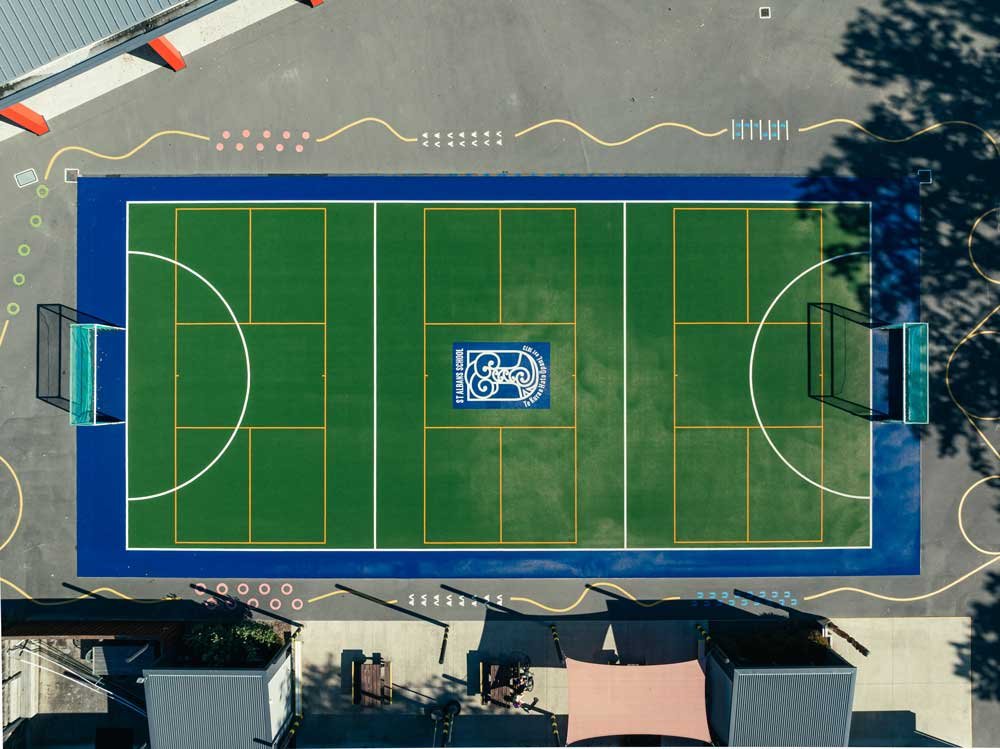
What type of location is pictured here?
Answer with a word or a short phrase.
sports ground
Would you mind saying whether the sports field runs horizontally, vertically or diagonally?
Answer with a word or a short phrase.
horizontally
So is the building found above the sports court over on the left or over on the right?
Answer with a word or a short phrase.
left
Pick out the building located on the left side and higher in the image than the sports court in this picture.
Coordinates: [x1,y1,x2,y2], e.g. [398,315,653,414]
[0,0,243,135]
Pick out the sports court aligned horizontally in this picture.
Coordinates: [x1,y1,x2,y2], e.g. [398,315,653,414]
[76,177,920,576]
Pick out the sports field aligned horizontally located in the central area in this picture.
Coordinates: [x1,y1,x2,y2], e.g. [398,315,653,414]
[128,203,871,548]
